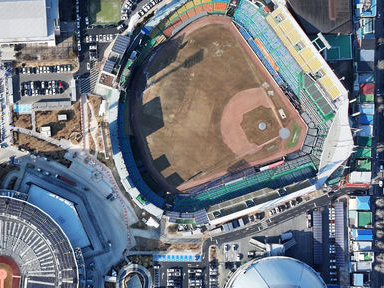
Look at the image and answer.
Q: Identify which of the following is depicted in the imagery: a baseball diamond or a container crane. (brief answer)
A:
baseball diamond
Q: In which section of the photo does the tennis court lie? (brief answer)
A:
top right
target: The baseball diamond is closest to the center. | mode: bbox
[131,15,309,196]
